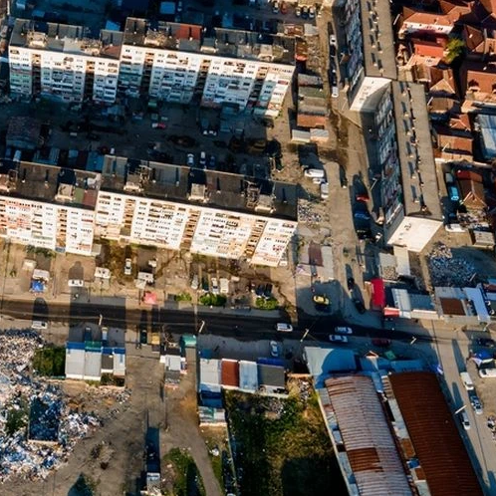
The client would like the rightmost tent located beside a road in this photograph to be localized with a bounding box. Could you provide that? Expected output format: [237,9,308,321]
[469,347,496,367]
